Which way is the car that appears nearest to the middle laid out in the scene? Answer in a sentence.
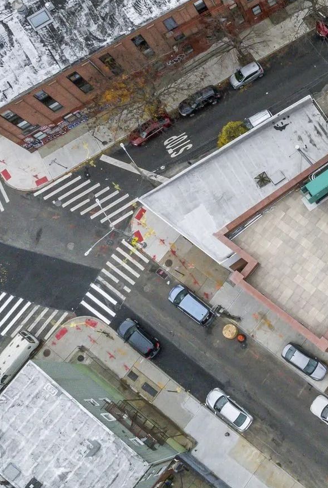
In this picture, the car that appears nearest to the middle is oriented on a diagonal.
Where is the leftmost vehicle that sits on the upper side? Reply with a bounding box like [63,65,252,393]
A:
[126,110,177,150]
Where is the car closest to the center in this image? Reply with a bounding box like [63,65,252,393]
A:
[164,281,221,333]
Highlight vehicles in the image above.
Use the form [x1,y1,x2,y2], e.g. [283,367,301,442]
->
[238,101,279,136]
[276,337,328,386]
[0,325,47,395]
[126,110,177,150]
[112,315,166,364]
[224,57,271,93]
[177,82,226,121]
[305,389,328,427]
[164,281,221,333]
[201,384,258,439]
